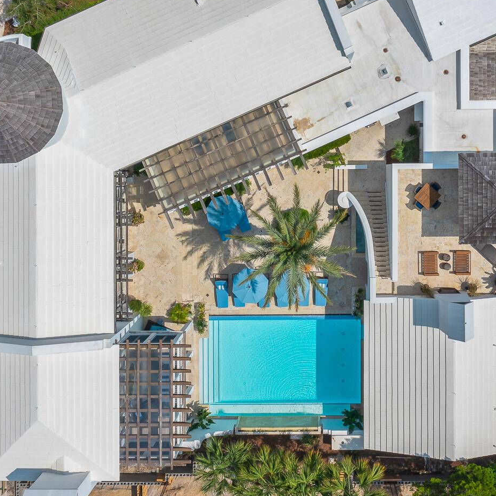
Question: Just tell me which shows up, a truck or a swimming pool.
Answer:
swimming pool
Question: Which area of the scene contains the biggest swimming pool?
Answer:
bottom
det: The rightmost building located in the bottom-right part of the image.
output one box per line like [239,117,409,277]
[361,284,496,461]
